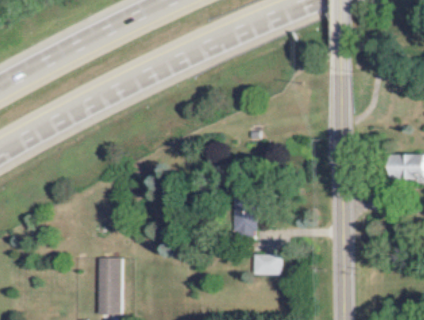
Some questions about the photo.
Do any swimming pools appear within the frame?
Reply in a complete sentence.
No, this view has no swimming pool in it.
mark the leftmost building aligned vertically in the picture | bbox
[98,257,126,314]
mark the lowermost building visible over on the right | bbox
[254,254,285,276]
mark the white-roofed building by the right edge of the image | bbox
[386,154,424,184]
